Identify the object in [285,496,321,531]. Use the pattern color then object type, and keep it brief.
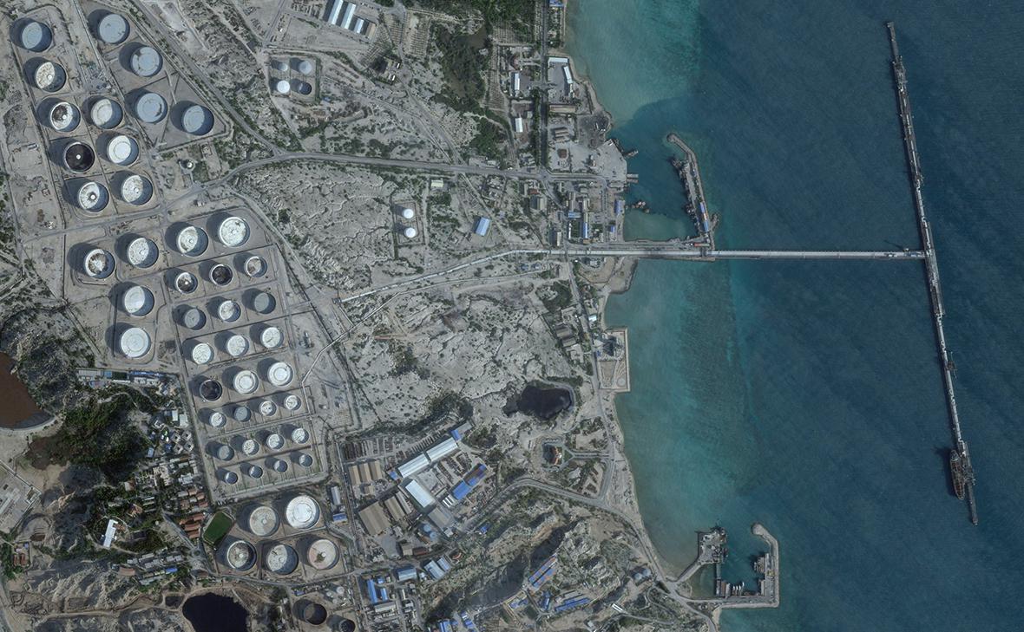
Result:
white storage tank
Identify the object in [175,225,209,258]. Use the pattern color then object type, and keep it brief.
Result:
white storage tank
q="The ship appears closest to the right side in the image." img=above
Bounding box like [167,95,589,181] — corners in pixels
[951,450,965,500]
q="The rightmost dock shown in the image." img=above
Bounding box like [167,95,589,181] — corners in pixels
[886,23,977,527]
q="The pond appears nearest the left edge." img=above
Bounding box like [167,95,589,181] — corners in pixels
[0,349,53,429]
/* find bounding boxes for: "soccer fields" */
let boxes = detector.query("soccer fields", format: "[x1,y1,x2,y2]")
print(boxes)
[201,509,235,547]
